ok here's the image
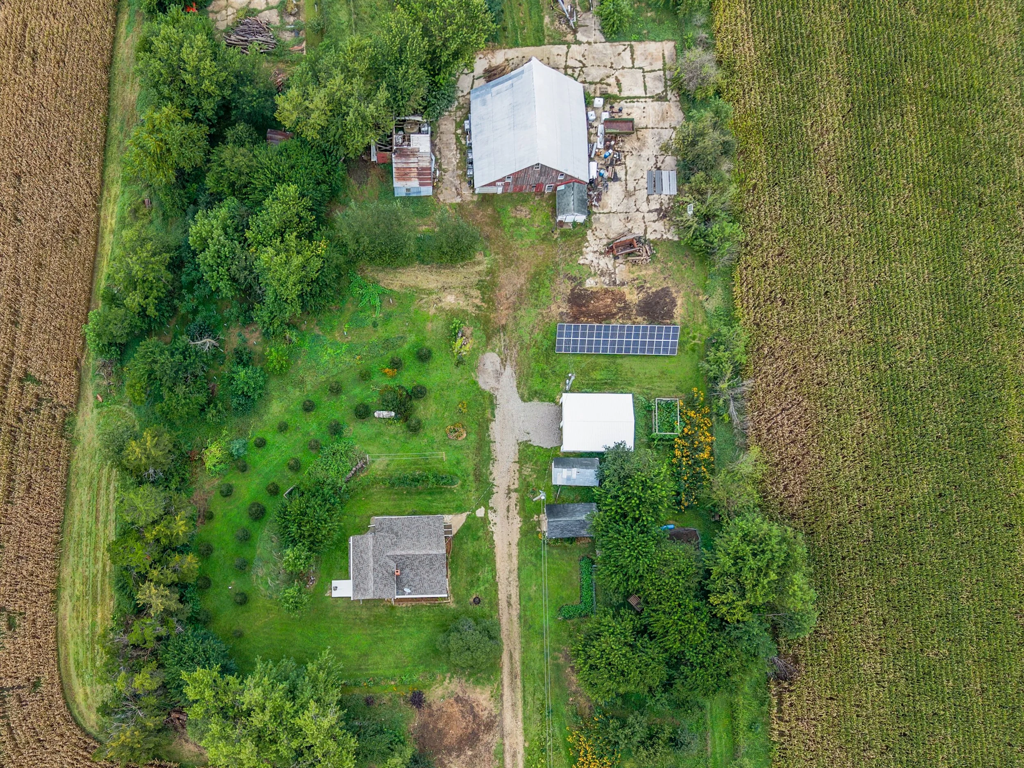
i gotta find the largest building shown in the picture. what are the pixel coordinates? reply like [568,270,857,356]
[471,57,589,193]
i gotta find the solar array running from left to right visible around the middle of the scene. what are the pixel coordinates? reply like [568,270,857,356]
[556,324,679,355]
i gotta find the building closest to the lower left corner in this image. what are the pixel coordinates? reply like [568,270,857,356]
[332,515,452,604]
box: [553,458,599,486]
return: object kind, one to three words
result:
shed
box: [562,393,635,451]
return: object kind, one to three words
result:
building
